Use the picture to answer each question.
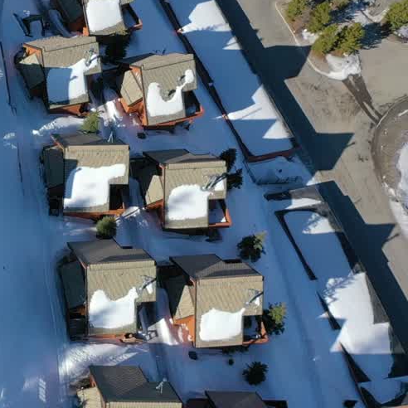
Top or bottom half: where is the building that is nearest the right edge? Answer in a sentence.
The building that is nearest the right edge is in the bottom half of the image.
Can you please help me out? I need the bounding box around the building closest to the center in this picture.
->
[123,147,236,243]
